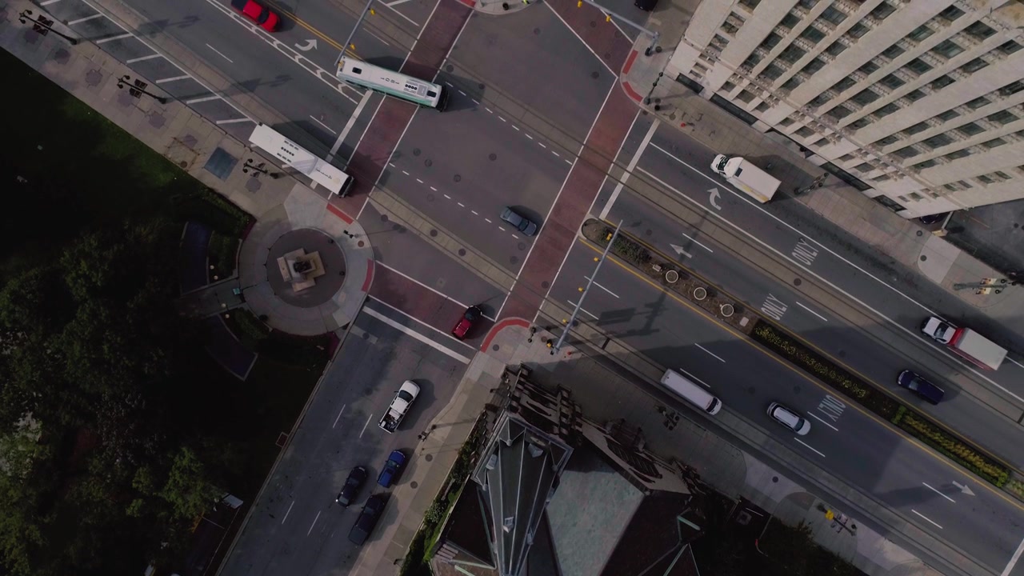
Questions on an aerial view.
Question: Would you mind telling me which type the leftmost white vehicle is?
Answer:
bus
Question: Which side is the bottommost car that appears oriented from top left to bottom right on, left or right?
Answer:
right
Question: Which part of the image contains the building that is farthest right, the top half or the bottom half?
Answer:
top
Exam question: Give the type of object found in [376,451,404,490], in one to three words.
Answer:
car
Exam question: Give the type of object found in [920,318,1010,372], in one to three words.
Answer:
truck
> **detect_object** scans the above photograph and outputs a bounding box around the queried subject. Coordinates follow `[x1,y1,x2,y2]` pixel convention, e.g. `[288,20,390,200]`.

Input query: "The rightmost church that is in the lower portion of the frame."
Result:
[410,359,708,576]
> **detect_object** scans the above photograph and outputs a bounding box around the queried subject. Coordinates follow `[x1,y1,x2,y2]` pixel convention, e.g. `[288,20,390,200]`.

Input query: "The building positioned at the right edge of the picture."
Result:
[665,0,1024,220]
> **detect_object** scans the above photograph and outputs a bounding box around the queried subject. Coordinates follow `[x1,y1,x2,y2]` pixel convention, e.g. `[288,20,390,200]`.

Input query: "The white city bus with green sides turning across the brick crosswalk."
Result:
[334,55,445,110]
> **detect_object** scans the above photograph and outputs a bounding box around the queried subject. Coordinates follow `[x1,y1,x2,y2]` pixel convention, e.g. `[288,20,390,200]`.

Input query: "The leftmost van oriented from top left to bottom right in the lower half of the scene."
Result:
[661,369,722,414]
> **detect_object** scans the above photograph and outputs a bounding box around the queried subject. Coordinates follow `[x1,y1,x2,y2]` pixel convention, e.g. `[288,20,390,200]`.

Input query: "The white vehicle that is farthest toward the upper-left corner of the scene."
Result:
[247,123,352,196]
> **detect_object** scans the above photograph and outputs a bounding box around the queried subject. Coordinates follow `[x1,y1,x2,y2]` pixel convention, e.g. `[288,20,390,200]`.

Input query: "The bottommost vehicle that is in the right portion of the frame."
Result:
[767,403,812,438]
